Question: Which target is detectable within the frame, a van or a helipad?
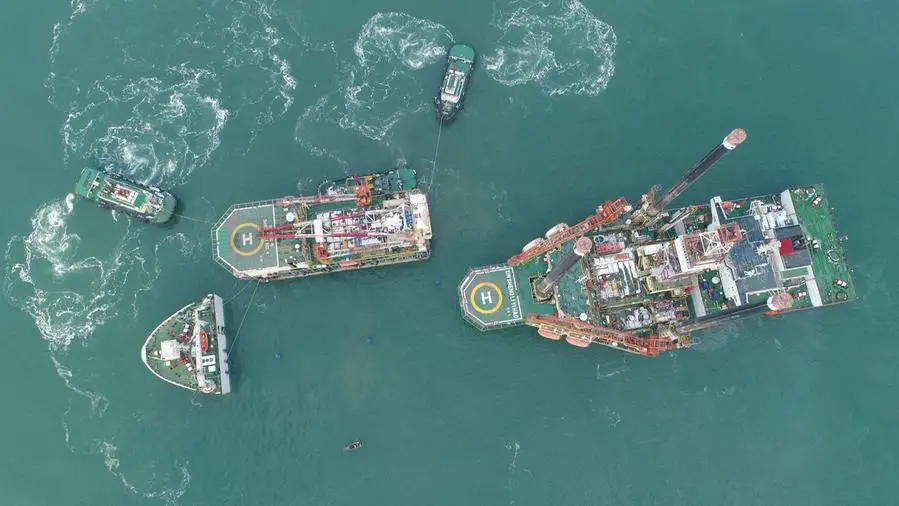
helipad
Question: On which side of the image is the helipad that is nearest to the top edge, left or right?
left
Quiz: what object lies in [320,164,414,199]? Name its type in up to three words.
boat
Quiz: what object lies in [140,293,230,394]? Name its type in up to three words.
ship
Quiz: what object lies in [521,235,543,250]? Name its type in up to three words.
boat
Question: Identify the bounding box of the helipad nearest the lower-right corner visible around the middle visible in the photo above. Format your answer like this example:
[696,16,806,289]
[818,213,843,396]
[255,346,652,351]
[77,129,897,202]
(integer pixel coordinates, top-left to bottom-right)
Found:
[457,264,527,331]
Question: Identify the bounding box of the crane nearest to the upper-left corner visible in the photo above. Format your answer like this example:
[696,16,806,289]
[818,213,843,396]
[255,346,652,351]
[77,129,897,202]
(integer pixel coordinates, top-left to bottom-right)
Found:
[278,185,376,209]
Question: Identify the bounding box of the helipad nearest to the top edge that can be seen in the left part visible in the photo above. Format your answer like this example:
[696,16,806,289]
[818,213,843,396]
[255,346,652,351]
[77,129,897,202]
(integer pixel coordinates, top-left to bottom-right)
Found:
[211,199,279,278]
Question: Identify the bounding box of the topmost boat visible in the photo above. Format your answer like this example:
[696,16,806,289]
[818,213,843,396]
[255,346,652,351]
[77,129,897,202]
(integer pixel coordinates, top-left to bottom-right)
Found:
[435,42,475,125]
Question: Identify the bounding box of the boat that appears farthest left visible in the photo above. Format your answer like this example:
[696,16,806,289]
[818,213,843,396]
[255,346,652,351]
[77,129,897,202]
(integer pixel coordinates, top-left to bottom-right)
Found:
[75,164,177,220]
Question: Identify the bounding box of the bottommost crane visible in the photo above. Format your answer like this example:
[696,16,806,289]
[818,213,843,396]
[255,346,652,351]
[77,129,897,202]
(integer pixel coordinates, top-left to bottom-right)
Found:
[524,312,680,361]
